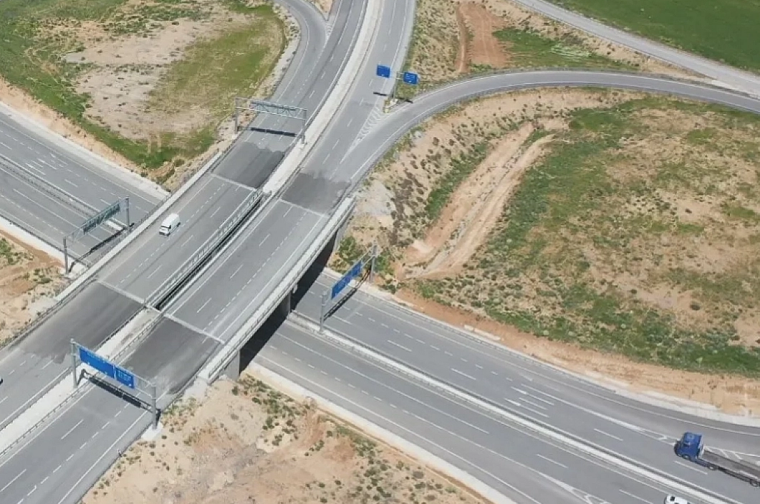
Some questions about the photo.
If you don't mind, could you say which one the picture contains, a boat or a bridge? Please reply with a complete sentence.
The image shows a bridge.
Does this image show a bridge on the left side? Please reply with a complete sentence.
Yes, a bridge appears on the left side.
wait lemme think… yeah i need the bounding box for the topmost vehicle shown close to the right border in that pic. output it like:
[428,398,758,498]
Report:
[678,435,760,486]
